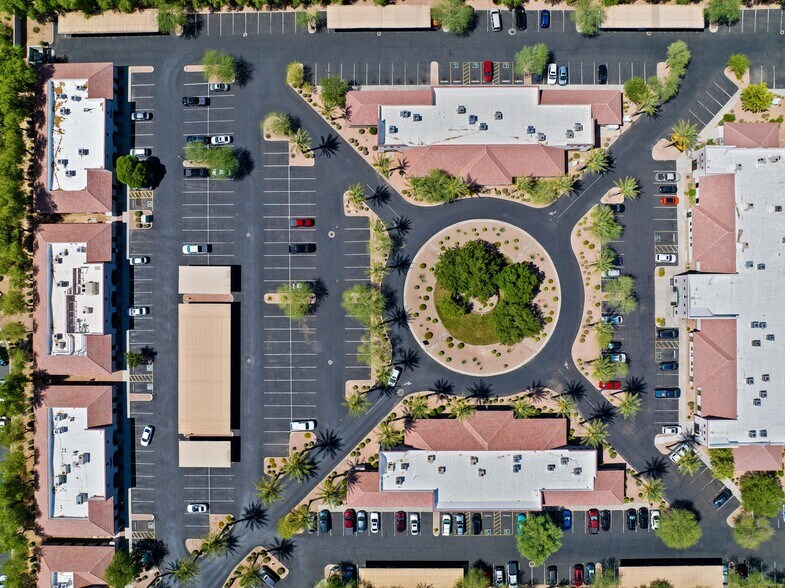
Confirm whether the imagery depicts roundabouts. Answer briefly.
Yes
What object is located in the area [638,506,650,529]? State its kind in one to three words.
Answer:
vehicle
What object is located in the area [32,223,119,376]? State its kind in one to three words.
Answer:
building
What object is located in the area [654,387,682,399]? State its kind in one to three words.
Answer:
vehicle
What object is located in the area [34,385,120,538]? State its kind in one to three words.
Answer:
building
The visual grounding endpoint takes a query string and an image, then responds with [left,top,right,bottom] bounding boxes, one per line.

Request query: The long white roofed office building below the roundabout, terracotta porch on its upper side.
[346,410,626,511]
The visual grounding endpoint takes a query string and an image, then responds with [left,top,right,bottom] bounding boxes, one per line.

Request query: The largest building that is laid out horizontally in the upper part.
[346,87,622,186]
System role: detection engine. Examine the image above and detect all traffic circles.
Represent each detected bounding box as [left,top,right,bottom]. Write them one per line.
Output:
[403,218,561,376]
